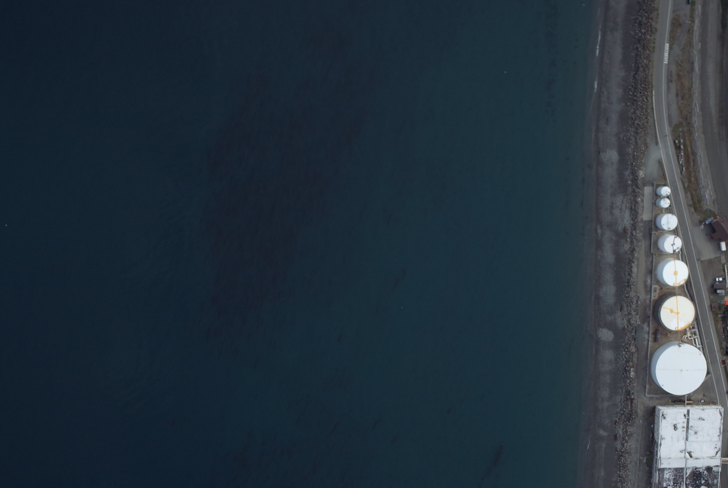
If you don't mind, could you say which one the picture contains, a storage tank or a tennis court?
storage tank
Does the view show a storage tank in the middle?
No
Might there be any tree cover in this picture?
No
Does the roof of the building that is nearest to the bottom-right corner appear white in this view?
Yes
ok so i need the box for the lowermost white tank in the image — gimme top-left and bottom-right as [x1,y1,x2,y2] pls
[650,341,707,395]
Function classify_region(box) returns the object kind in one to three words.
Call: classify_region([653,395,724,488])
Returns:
building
